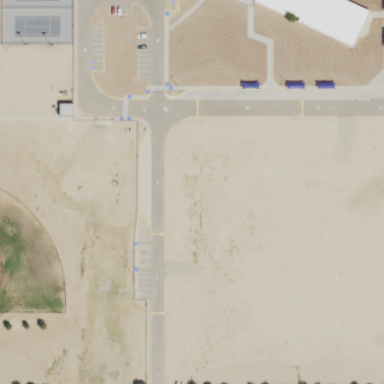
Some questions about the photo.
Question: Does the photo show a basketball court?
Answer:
No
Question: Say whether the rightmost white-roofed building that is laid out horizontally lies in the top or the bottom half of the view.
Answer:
top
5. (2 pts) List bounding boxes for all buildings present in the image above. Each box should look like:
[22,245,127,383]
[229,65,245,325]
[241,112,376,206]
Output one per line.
[256,0,370,46]
[59,102,74,116]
